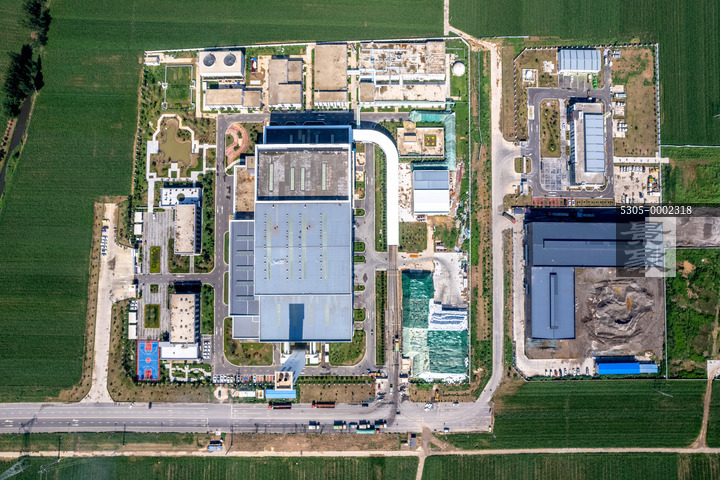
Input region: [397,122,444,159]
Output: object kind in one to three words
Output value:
building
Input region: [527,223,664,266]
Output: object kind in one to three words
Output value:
shed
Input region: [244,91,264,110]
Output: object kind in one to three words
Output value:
building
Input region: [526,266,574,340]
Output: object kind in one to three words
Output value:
shed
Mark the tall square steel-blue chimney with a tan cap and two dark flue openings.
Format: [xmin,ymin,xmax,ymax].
[279,349,305,390]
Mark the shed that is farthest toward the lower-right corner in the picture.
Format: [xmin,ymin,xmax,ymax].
[592,361,657,375]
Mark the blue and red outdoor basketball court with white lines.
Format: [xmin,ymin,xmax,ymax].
[137,340,159,381]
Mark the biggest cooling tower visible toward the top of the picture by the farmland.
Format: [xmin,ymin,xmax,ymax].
[199,51,245,79]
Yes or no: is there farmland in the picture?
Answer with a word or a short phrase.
Yes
